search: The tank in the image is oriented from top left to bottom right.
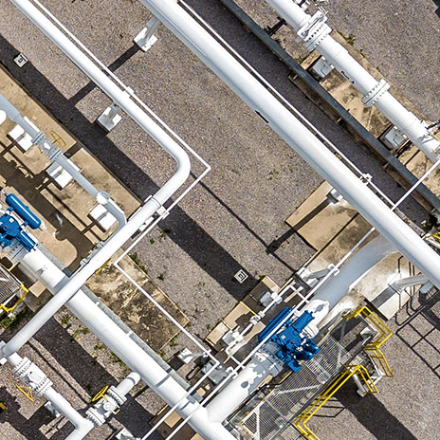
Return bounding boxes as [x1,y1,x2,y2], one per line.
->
[0,191,43,230]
